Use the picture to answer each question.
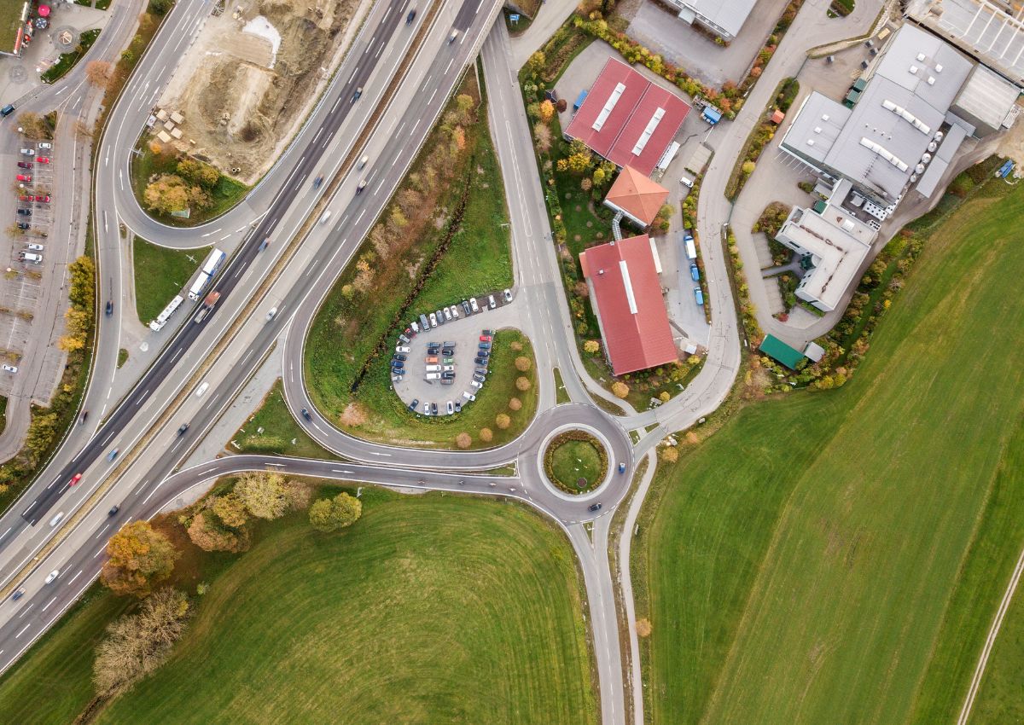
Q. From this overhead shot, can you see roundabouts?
Yes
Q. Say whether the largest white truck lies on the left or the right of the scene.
left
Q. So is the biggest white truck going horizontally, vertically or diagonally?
diagonally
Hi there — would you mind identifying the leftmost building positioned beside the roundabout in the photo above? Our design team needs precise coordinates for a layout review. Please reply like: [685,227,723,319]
[579,234,678,376]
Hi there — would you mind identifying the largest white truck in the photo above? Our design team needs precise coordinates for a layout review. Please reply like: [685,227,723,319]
[183,245,222,298]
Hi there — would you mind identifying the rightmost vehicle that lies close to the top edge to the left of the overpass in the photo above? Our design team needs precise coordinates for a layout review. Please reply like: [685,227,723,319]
[446,26,459,43]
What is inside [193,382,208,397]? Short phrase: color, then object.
white vehicle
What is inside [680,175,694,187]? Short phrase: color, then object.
white vehicle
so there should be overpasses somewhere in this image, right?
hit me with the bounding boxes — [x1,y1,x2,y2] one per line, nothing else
[463,0,508,74]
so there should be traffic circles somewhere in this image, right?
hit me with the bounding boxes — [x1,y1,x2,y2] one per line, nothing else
[517,403,635,521]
